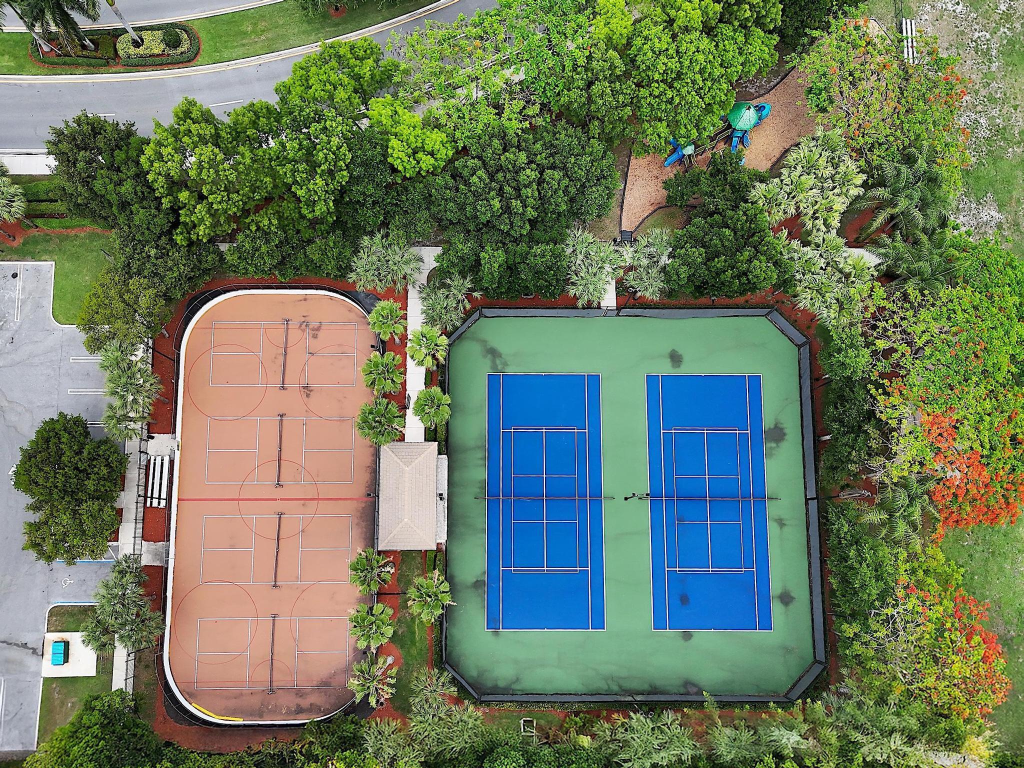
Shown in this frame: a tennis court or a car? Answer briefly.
tennis court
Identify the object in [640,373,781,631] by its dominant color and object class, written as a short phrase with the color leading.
blue tennis court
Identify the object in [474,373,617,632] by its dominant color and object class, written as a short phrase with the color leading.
blue tennis court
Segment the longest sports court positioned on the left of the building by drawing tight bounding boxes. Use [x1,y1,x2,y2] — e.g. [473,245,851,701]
[151,283,380,733]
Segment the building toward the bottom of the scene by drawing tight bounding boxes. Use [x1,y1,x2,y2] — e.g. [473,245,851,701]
[378,441,439,551]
